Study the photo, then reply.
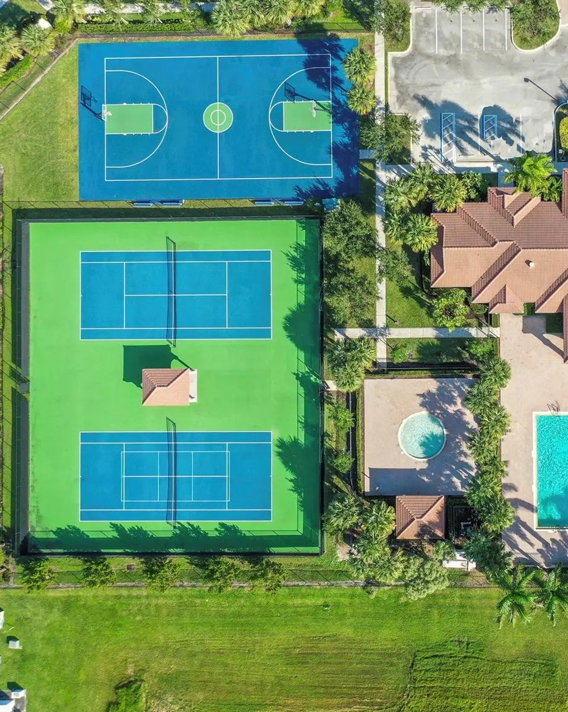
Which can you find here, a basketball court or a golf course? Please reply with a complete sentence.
There is a basketball court in the scene.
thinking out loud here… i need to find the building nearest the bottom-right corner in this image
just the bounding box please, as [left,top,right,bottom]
[394,498,446,542]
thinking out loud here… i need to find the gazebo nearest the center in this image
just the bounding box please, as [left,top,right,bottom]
[142,370,200,408]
